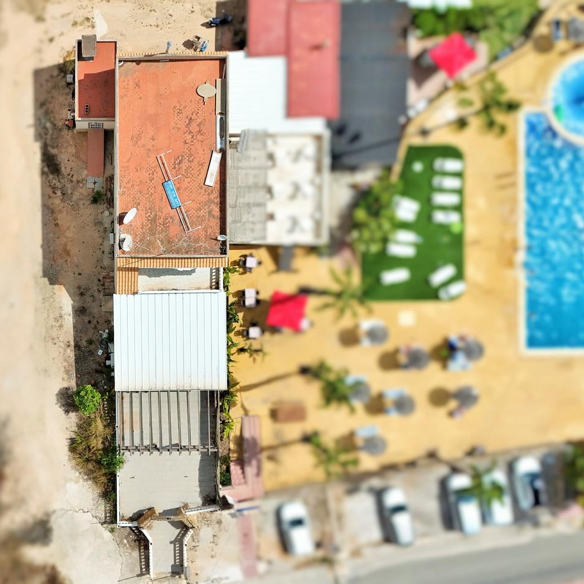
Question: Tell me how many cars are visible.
5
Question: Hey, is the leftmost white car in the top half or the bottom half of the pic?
bottom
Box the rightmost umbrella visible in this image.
[565,18,584,47]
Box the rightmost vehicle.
[509,453,544,509]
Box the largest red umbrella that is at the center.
[267,292,308,332]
